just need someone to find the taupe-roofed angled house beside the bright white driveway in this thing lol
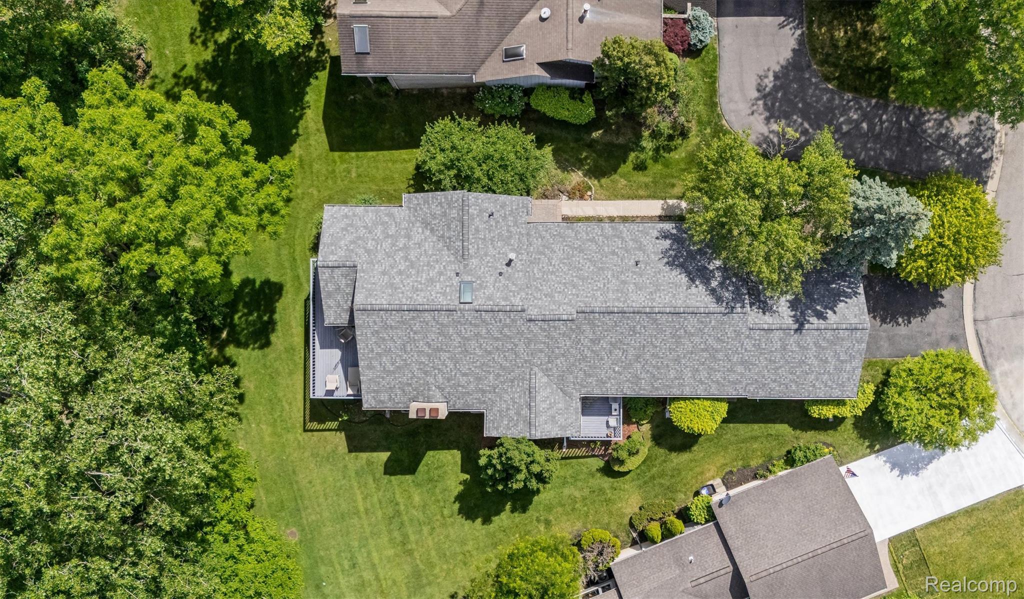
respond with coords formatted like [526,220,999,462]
[580,453,886,599]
